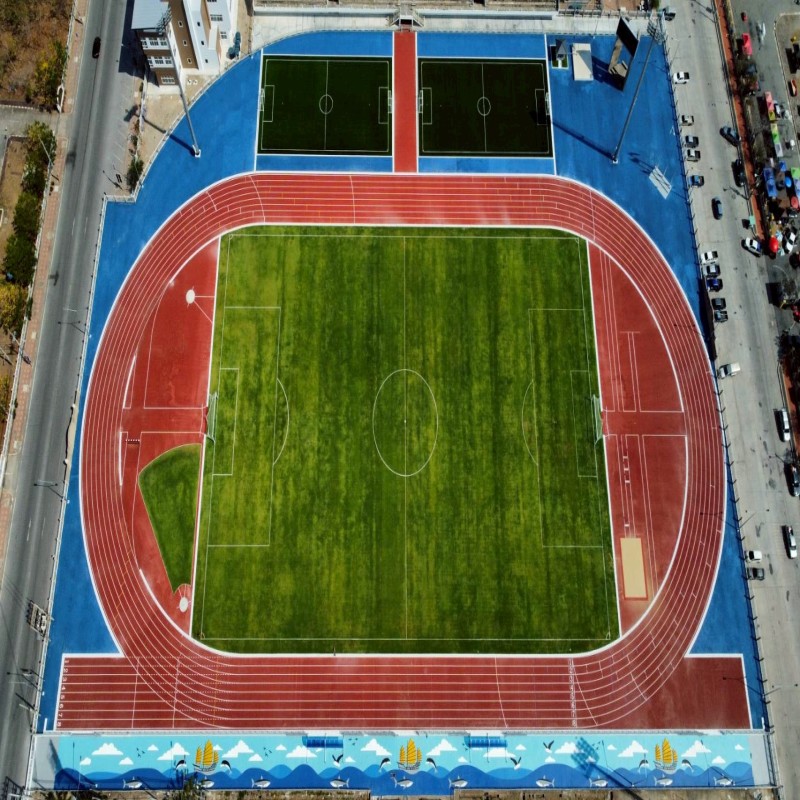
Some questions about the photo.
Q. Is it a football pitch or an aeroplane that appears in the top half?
football pitch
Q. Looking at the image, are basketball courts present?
No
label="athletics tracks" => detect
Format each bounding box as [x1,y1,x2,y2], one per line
[57,173,750,730]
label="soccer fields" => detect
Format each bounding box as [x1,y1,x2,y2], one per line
[418,57,553,157]
[190,225,620,652]
[256,55,392,155]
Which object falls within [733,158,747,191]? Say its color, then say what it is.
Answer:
black car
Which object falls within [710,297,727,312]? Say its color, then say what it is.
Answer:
black car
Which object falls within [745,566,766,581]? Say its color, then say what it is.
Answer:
gray car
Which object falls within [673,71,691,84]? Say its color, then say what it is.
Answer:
white vehicle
